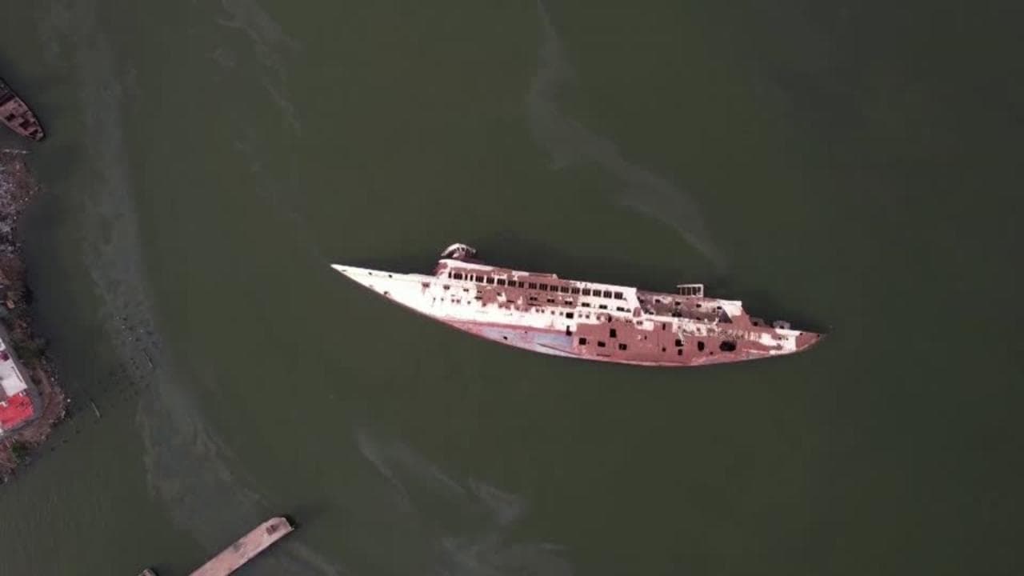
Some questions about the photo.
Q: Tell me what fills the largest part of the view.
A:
water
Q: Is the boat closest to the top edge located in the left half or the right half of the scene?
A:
left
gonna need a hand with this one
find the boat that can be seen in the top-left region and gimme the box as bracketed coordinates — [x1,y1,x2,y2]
[0,76,47,140]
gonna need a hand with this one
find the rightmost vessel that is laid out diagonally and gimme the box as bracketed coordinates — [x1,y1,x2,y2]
[190,517,295,576]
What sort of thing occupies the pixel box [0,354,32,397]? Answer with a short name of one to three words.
house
